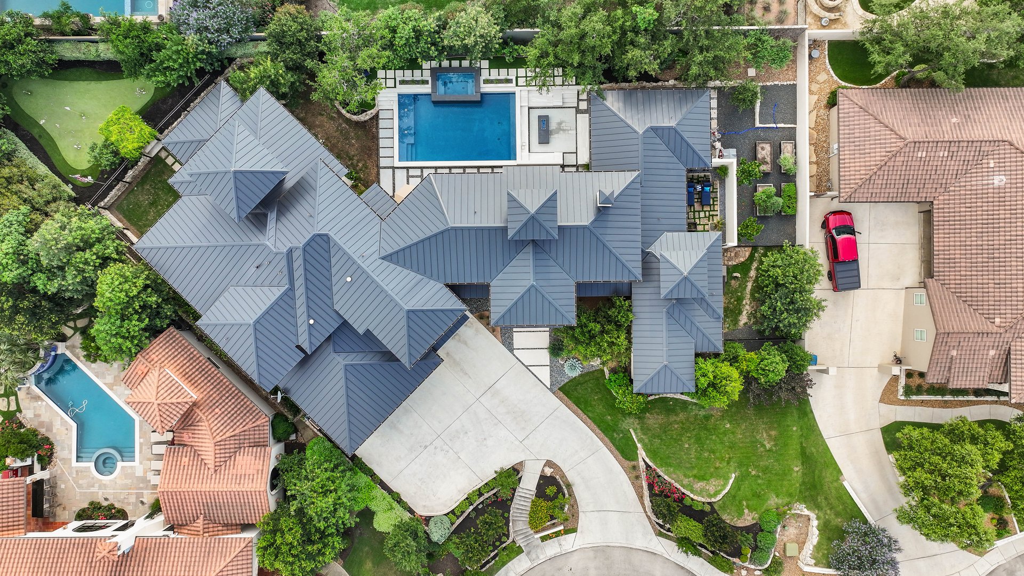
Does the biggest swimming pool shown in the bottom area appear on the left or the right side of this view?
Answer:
left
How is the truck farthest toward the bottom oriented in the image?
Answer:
from top to bottom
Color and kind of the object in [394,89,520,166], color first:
blue swimming pool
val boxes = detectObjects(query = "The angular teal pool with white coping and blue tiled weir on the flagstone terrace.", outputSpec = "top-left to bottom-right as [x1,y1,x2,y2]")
[22,341,139,466]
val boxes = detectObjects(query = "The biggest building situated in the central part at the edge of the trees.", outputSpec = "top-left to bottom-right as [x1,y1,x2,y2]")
[132,78,725,456]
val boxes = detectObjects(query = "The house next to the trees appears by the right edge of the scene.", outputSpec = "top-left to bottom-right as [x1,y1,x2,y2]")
[826,87,1024,403]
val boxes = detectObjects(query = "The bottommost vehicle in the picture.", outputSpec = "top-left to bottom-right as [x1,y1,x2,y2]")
[819,210,860,293]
